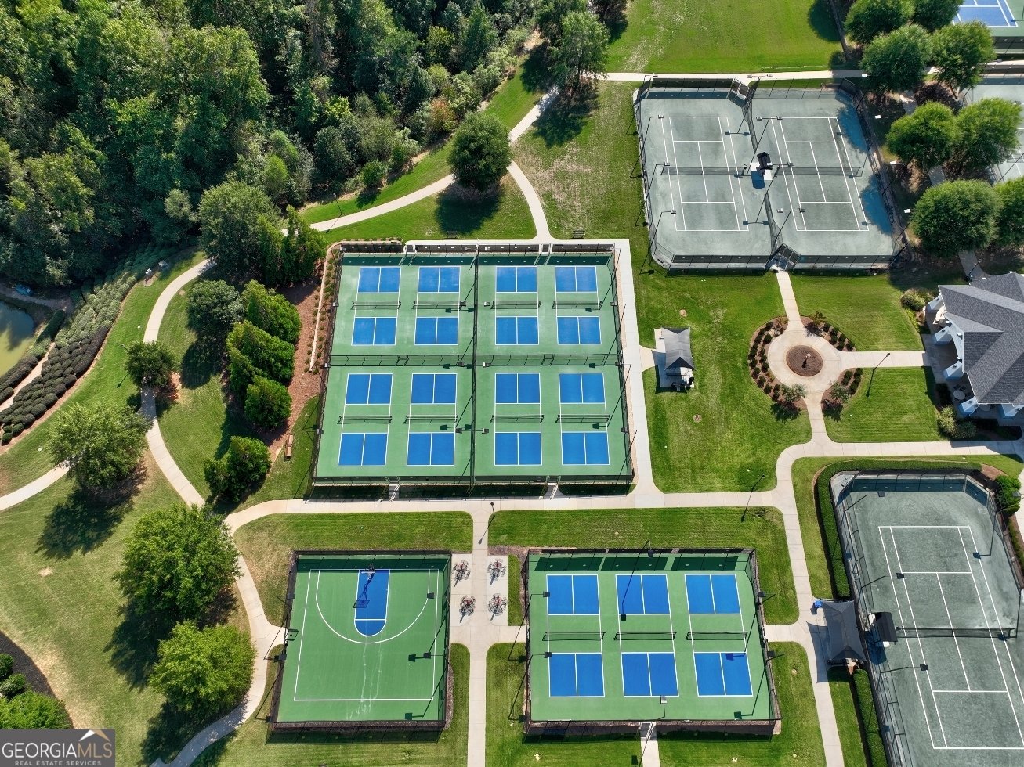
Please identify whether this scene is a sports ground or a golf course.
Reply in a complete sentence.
It's a sports ground.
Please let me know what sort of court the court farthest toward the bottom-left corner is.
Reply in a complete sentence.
From above, the court farthest toward the bottom-left corner can be identified as a basketball court.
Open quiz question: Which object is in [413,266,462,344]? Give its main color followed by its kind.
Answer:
blue sports court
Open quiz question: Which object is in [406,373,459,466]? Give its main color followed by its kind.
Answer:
blue sports court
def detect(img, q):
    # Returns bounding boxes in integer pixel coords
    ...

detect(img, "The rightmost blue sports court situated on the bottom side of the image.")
[685,574,753,696]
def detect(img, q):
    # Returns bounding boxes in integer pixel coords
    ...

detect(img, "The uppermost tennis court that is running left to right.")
[951,0,1021,28]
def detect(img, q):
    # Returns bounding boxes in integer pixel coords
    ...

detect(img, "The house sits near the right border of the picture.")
[928,272,1024,413]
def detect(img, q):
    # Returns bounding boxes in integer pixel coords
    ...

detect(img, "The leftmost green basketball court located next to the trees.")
[281,556,452,722]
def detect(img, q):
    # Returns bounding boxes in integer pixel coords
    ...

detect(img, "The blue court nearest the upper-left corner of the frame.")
[351,266,401,345]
